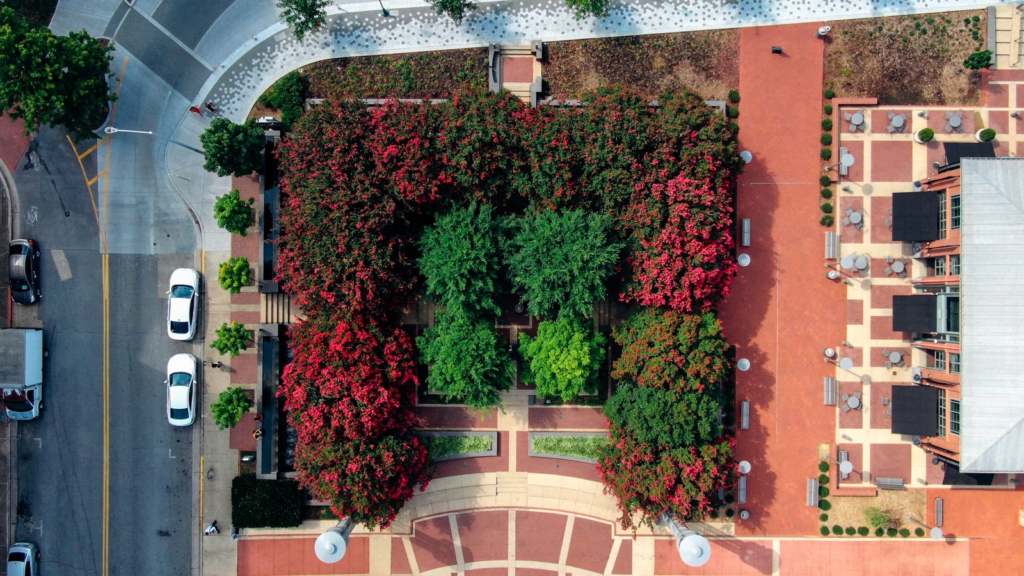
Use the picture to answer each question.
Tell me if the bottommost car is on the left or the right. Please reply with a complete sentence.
The bottommost car appears in the left half of the scene.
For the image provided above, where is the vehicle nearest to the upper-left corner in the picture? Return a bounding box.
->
[1,237,40,304]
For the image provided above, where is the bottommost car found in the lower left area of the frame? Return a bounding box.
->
[5,544,40,576]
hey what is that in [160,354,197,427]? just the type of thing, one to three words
car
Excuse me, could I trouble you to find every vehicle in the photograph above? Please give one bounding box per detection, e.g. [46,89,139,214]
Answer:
[0,323,51,420]
[1,237,40,304]
[161,268,198,340]
[160,354,197,427]
[5,544,40,576]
